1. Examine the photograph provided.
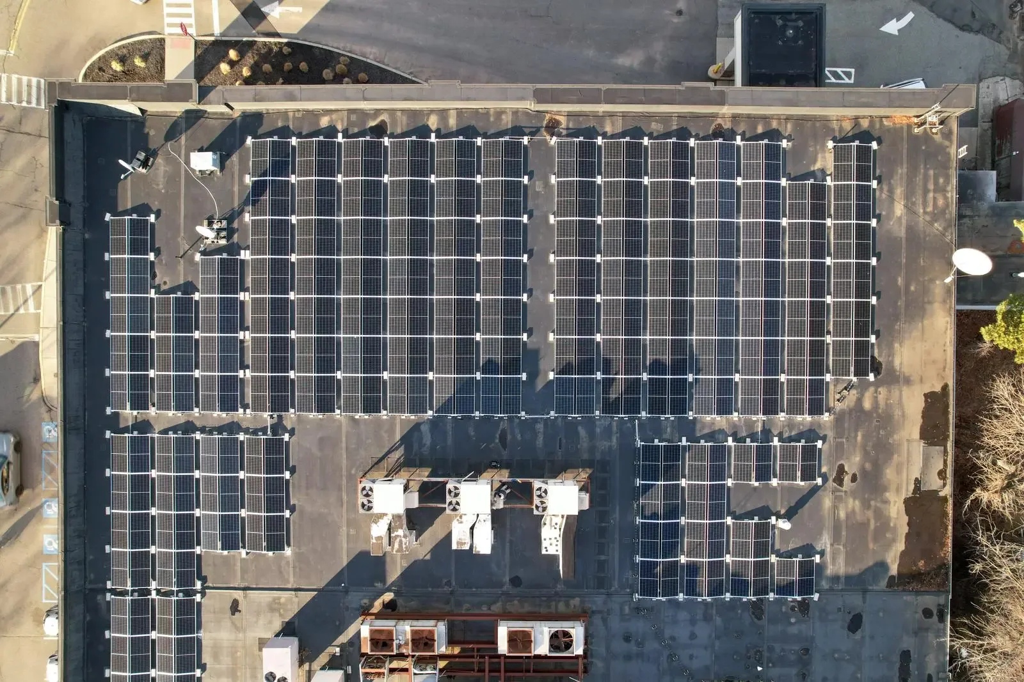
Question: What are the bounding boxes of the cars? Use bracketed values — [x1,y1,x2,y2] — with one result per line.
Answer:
[46,659,58,682]
[0,434,19,512]
[44,609,58,642]
[880,72,947,88]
